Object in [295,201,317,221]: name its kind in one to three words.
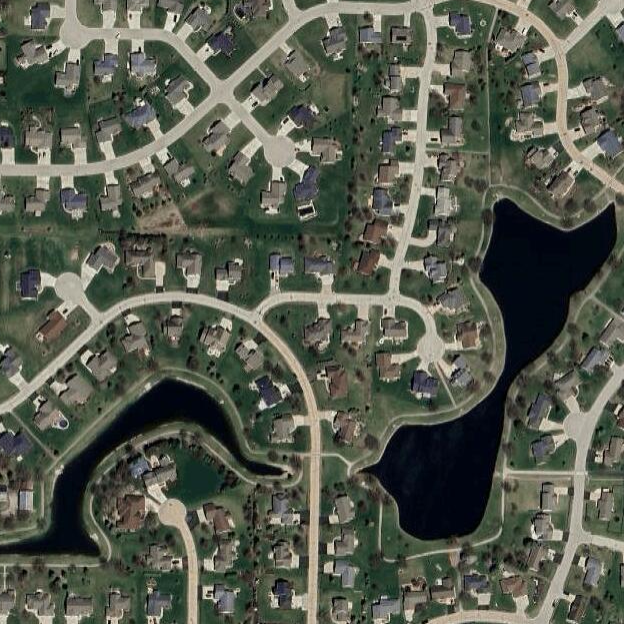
swimming pool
